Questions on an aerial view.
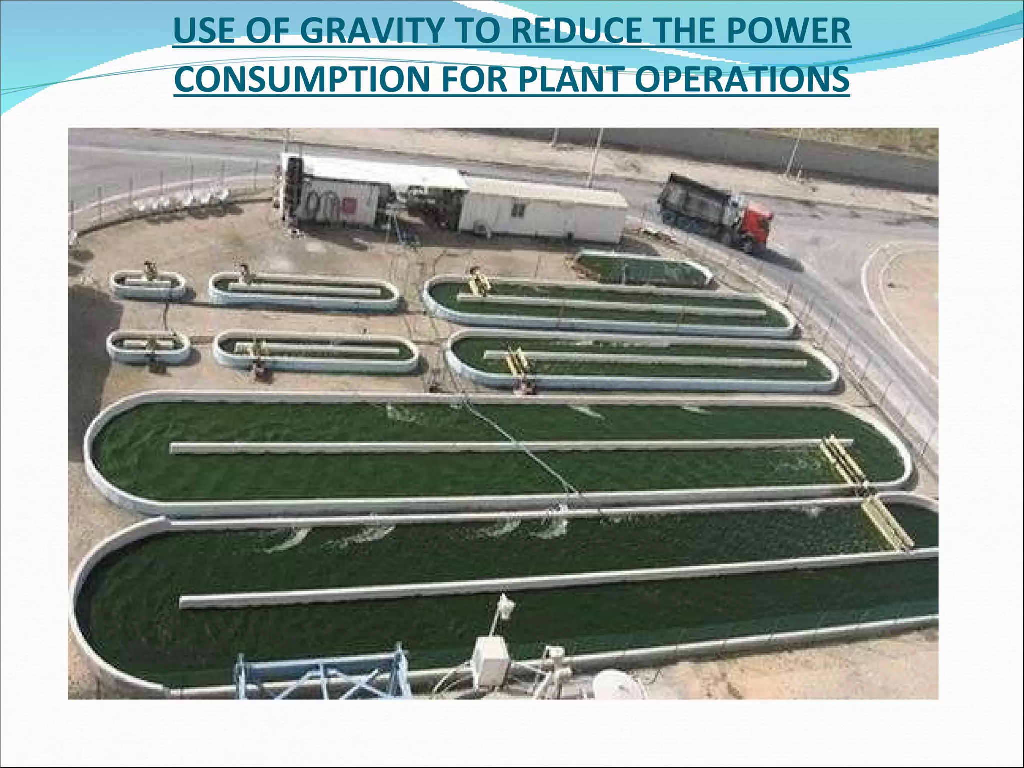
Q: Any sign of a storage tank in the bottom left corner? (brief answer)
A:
No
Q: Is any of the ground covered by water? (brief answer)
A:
Yes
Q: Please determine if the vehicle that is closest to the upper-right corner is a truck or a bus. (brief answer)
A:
truck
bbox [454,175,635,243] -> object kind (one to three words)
building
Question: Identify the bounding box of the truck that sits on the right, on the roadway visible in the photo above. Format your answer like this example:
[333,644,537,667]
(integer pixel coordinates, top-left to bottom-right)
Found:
[660,176,778,253]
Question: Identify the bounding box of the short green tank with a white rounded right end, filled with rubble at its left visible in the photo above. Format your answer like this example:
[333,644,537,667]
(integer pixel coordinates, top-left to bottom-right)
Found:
[579,251,716,291]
